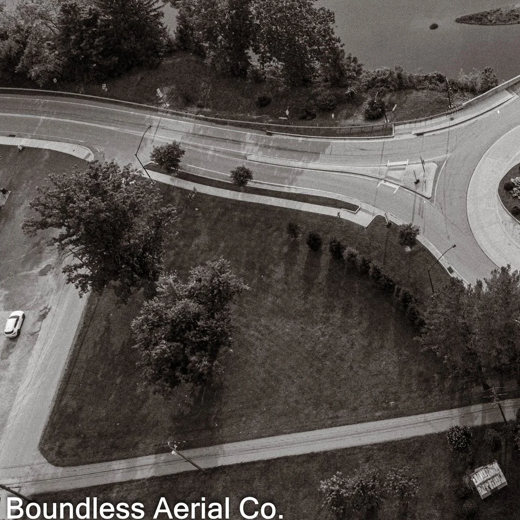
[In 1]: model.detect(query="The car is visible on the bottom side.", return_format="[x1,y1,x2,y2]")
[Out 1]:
[0,309,26,338]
